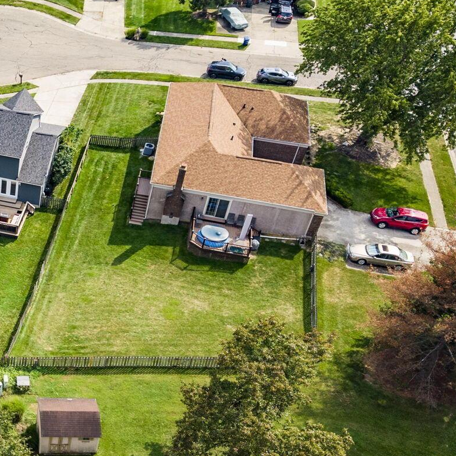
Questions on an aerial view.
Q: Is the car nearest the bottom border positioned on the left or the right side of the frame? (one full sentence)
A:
The car nearest the bottom border sits on the right side.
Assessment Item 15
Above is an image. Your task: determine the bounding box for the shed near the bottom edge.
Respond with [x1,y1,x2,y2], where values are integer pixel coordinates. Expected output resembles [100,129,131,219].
[37,399,104,454]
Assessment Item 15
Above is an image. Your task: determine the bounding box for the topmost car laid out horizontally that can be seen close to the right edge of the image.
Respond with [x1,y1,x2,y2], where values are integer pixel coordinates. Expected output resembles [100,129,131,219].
[371,205,435,233]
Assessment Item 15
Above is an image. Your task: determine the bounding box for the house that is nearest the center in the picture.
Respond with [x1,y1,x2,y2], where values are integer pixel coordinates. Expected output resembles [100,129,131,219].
[127,82,329,246]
